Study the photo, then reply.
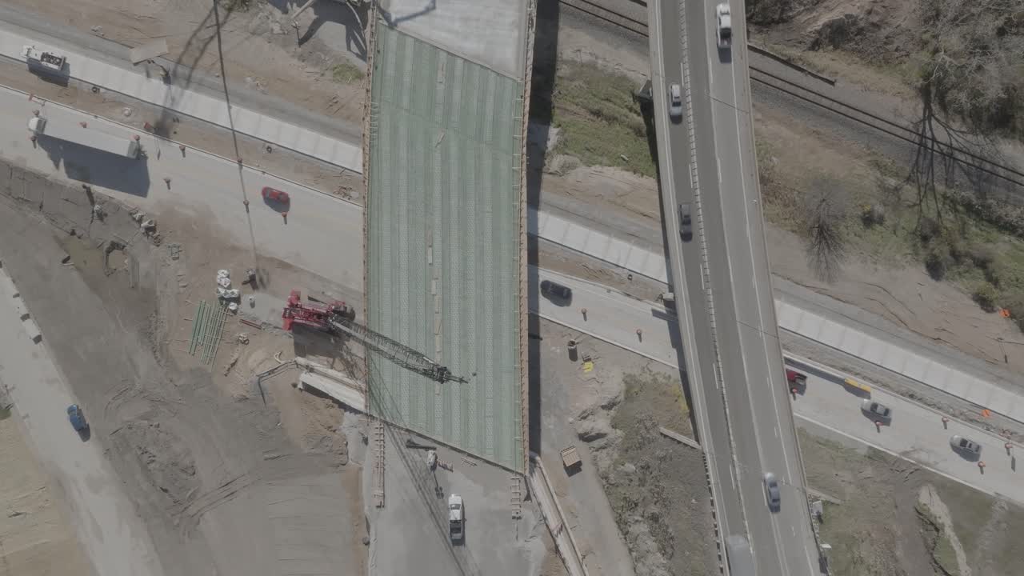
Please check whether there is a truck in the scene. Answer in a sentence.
Yes, a truck can be made out from above.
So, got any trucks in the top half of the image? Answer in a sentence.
Yes, a truck shows up in the top half of the image.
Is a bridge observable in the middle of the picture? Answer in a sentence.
Yes, the scene does show a bridge in the middle of the picture.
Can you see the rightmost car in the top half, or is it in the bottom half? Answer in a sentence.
The bottom half of the photo is where the rightmost car is.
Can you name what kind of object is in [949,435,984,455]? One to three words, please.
car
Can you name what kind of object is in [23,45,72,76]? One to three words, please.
truck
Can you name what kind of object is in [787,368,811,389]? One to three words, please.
truck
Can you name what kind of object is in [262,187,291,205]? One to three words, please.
car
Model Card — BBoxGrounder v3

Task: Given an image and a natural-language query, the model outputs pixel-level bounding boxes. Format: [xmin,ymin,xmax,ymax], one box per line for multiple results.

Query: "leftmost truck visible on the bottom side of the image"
[65,400,89,434]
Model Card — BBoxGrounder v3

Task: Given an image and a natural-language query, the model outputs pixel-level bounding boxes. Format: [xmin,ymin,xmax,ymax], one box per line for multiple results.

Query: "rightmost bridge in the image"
[633,0,837,527]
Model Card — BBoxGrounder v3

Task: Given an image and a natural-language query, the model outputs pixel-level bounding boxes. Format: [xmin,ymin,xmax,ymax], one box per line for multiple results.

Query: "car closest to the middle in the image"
[539,279,573,300]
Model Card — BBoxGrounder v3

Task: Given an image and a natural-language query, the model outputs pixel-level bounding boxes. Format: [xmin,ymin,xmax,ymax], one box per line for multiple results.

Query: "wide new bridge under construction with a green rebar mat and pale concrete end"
[361,0,536,476]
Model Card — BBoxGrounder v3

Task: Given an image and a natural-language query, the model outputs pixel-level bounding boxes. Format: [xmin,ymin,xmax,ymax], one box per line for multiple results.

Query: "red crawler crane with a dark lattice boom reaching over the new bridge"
[272,283,476,383]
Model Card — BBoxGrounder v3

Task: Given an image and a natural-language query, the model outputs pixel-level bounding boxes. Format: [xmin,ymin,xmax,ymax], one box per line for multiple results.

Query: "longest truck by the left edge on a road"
[18,113,140,162]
